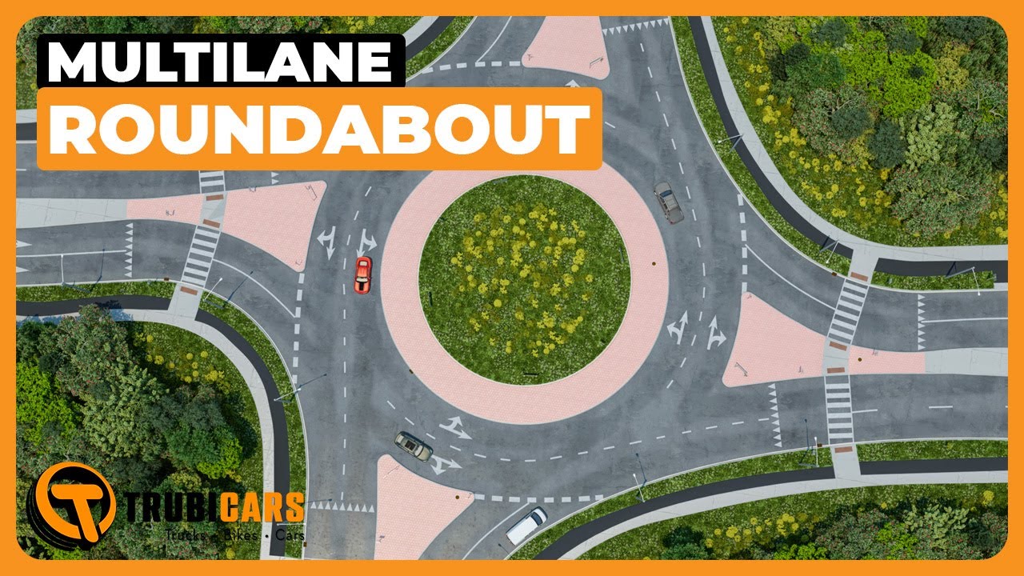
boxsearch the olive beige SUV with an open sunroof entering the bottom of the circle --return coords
[395,430,432,462]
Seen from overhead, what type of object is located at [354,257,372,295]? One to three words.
car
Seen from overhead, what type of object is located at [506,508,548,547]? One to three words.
van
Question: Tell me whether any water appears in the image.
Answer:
No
